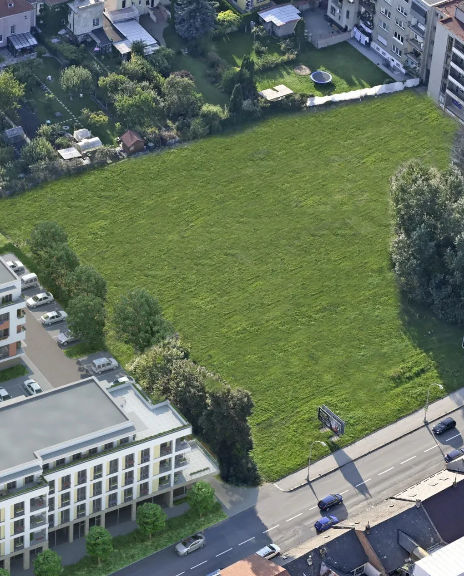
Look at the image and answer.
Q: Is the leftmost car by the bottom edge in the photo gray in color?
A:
Yes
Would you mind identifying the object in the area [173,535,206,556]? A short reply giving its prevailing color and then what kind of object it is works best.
gray car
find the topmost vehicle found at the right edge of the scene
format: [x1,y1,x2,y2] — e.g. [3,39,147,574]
[429,416,459,437]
